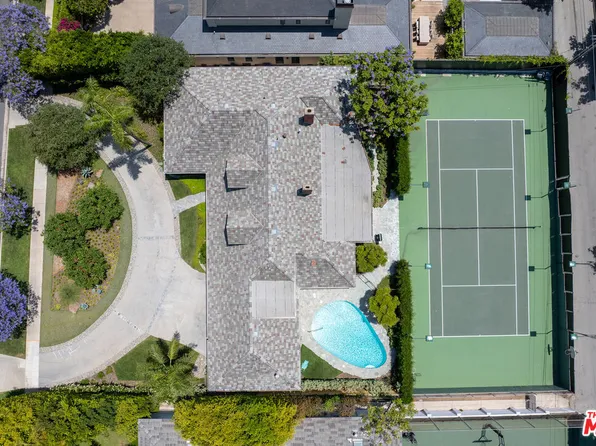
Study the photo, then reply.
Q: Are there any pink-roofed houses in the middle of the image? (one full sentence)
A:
No, no pink-roofed house can be made out in the middle of the image.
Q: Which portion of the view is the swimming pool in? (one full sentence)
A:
The swimming pool sits in the bottom section of the image.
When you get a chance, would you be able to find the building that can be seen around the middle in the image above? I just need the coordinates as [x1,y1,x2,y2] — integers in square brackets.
[164,66,373,392]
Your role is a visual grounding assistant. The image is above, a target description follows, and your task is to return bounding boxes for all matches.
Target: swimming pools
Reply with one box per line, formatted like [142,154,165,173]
[308,297,390,371]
